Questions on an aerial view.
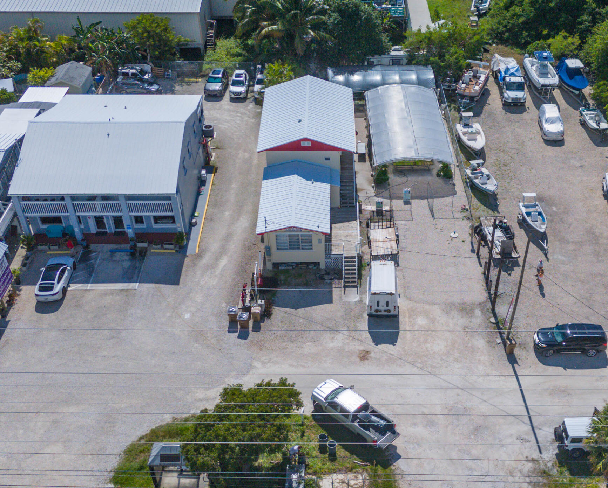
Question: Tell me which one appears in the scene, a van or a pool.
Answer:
van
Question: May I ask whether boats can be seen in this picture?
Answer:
Yes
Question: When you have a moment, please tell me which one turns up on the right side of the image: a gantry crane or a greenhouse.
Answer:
greenhouse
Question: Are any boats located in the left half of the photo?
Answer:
No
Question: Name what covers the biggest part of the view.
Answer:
paved ground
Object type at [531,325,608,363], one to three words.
car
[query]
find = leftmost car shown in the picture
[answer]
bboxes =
[34,255,78,301]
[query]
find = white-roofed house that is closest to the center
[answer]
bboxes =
[256,176,331,265]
